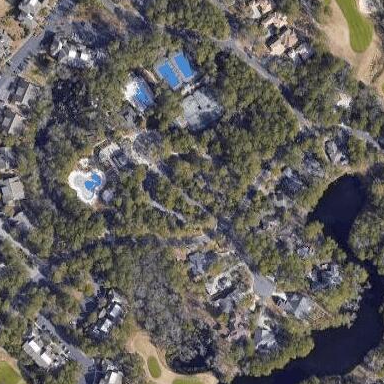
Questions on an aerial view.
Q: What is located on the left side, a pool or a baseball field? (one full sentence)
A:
The one visible on the left side is a pool.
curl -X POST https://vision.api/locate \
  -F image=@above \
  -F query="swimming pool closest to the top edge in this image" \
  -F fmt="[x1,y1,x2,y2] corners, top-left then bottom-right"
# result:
[126,77,155,112]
